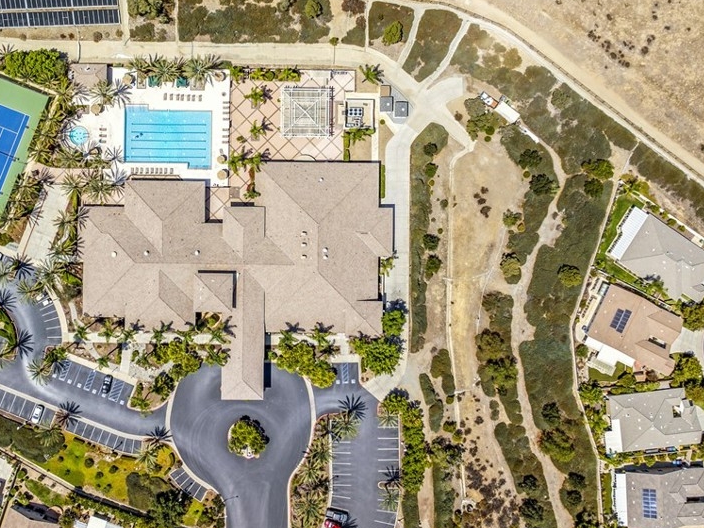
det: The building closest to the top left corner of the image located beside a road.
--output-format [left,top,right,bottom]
[70,62,107,85]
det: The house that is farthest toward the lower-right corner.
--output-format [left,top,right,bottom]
[610,465,704,528]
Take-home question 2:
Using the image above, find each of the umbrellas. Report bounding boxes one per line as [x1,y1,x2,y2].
[123,74,133,84]
[214,71,225,82]
[217,168,229,180]
[91,103,102,115]
[217,154,226,164]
